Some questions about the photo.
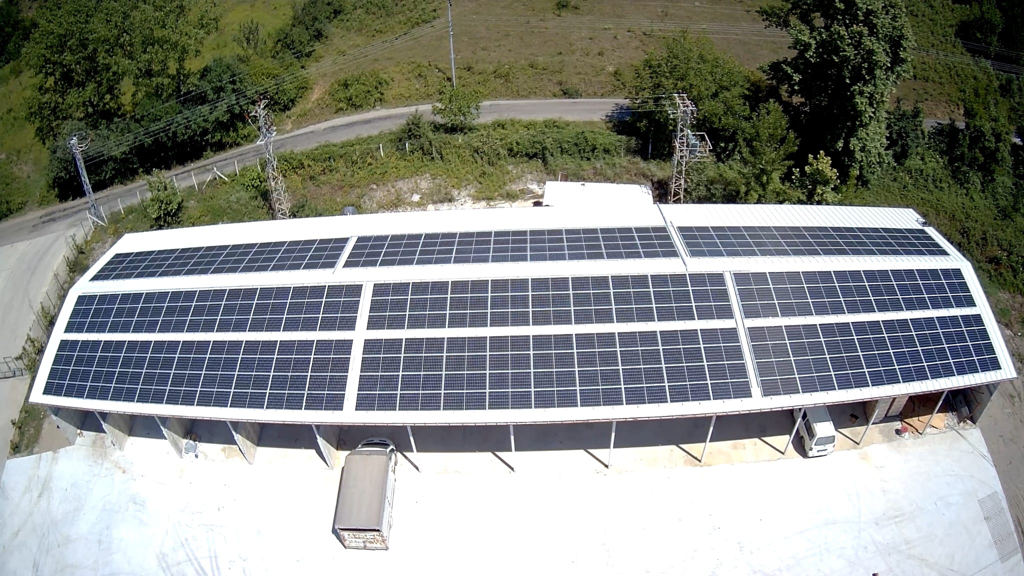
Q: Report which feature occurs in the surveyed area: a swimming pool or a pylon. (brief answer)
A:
pylon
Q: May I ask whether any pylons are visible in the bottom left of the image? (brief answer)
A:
No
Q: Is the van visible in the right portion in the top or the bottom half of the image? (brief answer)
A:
bottom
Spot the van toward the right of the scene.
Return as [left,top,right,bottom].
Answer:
[790,411,837,458]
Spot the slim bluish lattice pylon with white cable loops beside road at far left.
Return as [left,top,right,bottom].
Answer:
[69,129,99,226]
